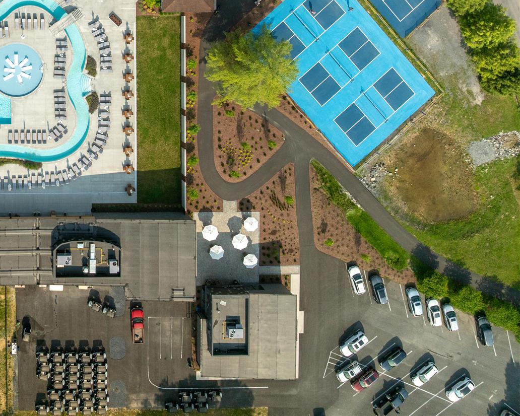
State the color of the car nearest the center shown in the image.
white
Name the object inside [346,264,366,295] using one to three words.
car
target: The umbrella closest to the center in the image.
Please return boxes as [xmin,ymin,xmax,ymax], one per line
[243,217,257,231]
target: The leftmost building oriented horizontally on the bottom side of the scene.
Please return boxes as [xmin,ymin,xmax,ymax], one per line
[0,213,197,302]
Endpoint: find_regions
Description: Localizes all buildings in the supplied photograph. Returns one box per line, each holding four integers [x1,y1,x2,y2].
[161,0,213,12]
[0,213,197,302]
[197,280,297,381]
